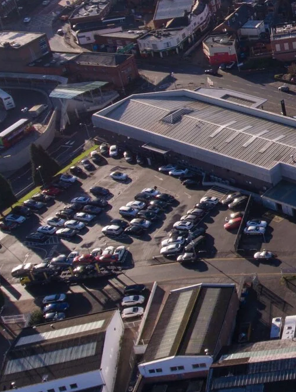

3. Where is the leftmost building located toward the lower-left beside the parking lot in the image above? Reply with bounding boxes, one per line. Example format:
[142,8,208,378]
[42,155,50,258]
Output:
[0,309,127,392]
